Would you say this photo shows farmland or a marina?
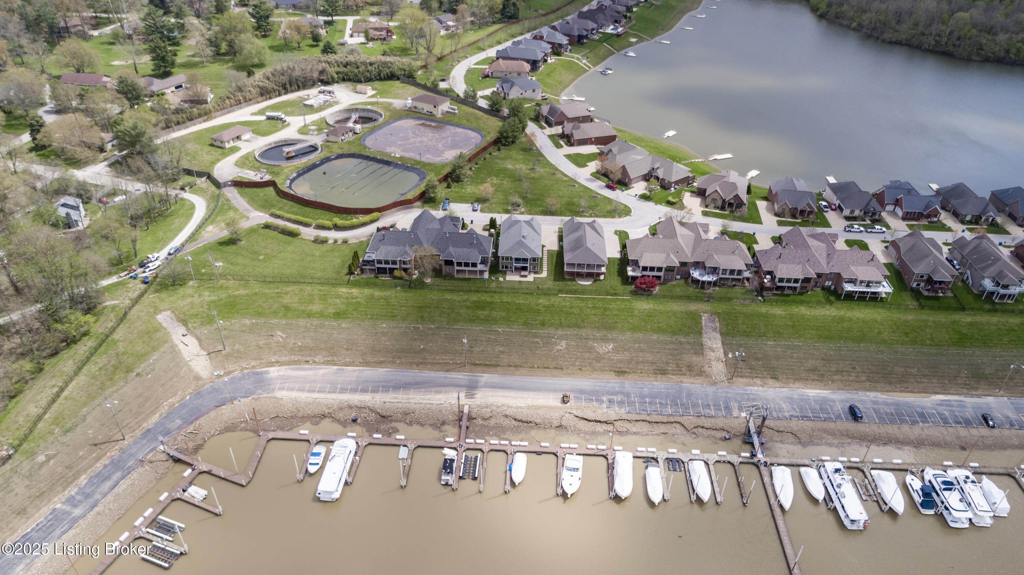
marina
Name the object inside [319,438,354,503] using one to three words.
boat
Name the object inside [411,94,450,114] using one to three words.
building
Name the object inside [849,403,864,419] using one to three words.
car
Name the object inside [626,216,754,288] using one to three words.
house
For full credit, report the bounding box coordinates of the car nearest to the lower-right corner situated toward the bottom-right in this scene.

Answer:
[982,410,999,426]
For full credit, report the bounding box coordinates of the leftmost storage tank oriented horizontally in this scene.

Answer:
[254,137,321,167]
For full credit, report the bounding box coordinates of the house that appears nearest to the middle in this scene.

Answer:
[498,215,543,272]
